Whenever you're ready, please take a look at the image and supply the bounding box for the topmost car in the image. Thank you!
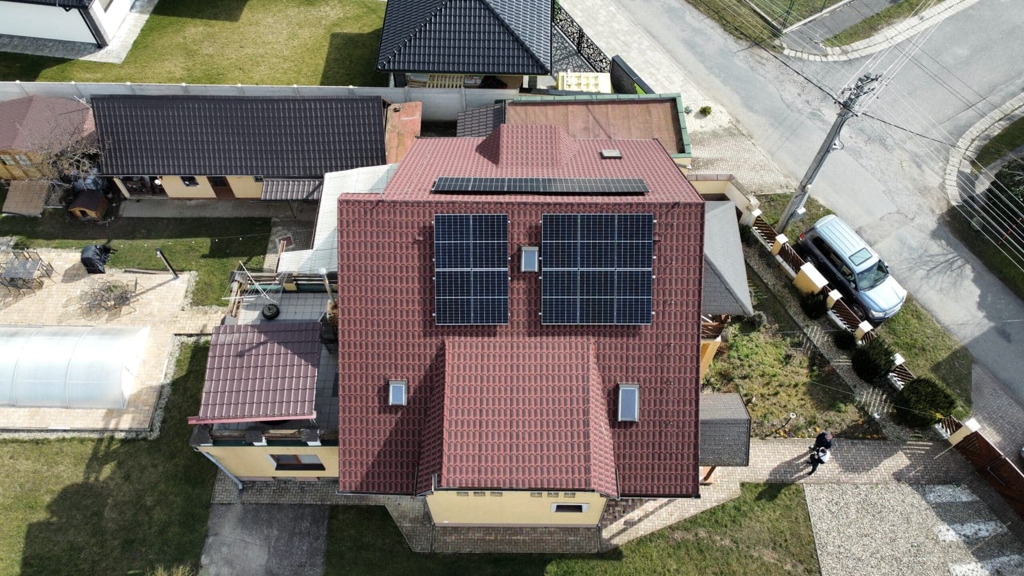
[803,216,908,321]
